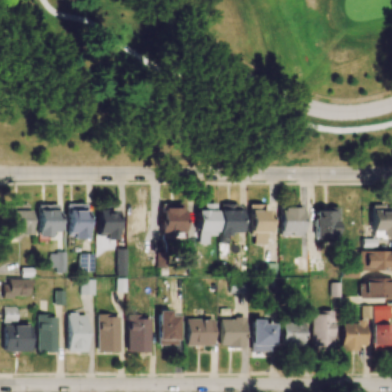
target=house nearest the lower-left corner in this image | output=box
[4,324,34,355]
